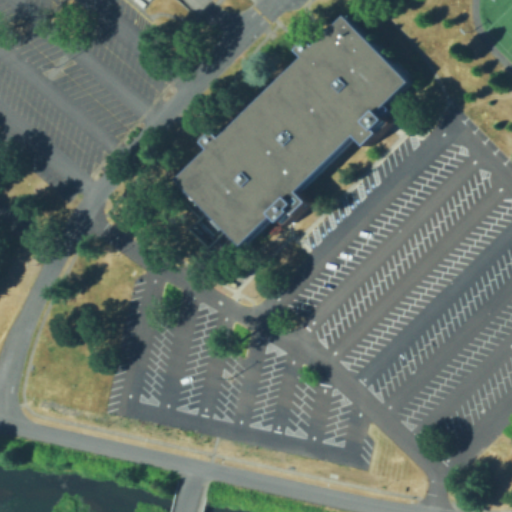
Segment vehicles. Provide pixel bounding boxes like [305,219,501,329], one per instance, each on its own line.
[325,282,338,290]
[338,252,353,260]
[324,263,338,272]
[358,232,373,240]
[180,377,194,386]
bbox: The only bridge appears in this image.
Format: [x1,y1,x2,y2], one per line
[172,474,211,512]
